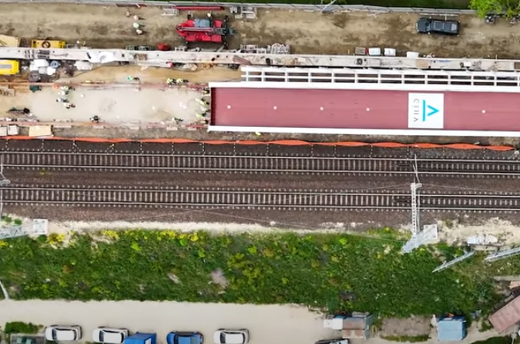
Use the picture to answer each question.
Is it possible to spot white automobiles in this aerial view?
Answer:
Yes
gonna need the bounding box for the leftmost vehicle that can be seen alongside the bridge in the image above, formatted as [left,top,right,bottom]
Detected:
[177,10,240,47]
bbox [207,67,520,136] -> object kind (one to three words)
bridge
